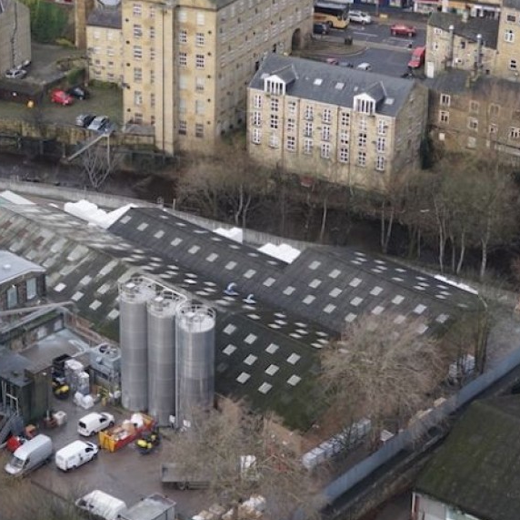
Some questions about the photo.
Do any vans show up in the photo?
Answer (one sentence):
Yes, there's a van down there.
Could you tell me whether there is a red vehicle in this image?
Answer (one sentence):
Yes, a red vehicle appears in the view.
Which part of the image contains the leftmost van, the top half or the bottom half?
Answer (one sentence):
The leftmost van is in the bottom half of the image.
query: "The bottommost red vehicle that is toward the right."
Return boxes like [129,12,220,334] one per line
[407,43,428,67]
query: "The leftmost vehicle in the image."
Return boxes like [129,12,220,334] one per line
[3,426,57,478]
